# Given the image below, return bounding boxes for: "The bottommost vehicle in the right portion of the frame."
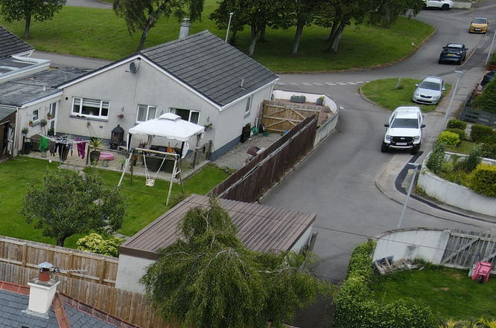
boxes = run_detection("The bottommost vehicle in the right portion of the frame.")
[384,107,433,149]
